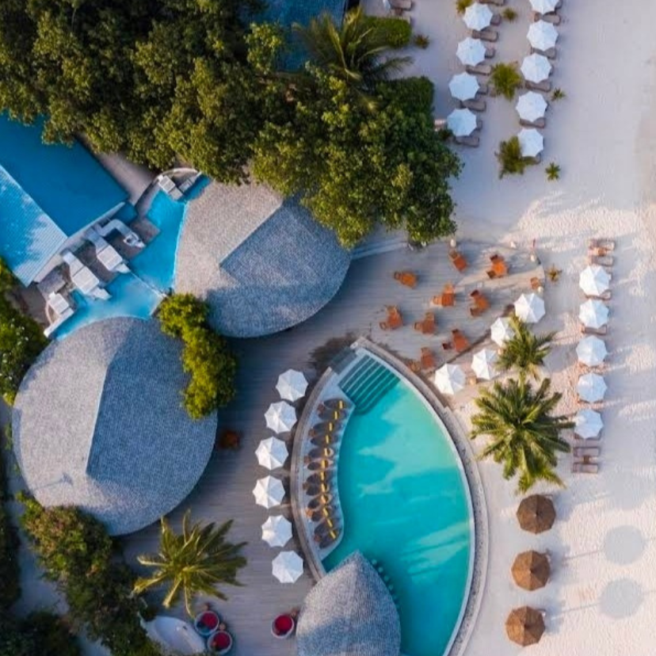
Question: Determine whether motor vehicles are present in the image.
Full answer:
No, there isn't any motor vehicle down there.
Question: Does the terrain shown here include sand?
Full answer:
Yes, the picture does contain sand.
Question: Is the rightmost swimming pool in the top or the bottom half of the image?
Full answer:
You can find the rightmost swimming pool in the bottom half.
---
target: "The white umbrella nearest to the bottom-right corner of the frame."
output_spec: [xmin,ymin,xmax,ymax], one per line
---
[572,408,604,438]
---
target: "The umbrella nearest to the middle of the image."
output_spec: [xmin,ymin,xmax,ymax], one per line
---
[276,369,309,402]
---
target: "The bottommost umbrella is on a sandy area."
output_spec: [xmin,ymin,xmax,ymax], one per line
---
[505,605,546,646]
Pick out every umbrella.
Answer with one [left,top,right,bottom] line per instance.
[505,605,546,646]
[576,373,606,403]
[265,401,297,432]
[579,265,611,296]
[516,492,556,533]
[572,408,604,438]
[510,549,550,590]
[522,53,553,84]
[529,0,560,17]
[517,129,545,157]
[272,549,303,581]
[517,92,547,123]
[462,2,492,34]
[276,369,309,402]
[456,36,486,65]
[513,291,545,323]
[579,300,610,329]
[254,475,284,505]
[447,70,480,102]
[259,438,289,468]
[577,334,607,366]
[469,347,500,380]
[434,363,466,394]
[488,316,518,347]
[261,516,293,547]
[527,22,557,52]
[446,107,477,137]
